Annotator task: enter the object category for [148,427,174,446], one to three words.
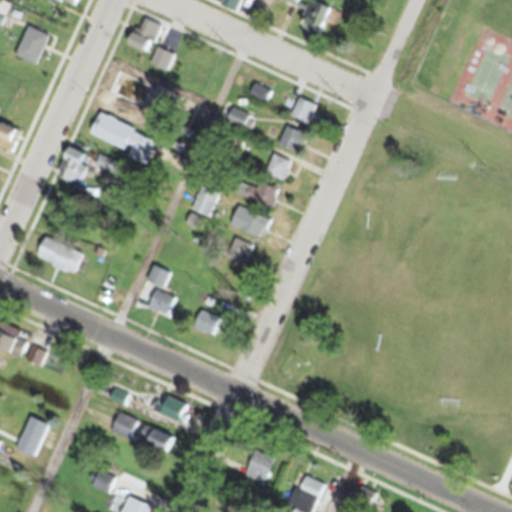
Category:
house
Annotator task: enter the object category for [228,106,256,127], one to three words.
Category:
building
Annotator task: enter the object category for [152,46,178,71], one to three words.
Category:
building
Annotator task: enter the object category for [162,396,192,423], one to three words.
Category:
house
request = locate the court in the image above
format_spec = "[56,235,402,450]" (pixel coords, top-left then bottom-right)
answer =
[452,27,512,131]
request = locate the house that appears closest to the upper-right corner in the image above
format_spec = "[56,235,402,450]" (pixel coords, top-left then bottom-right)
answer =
[296,0,333,30]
